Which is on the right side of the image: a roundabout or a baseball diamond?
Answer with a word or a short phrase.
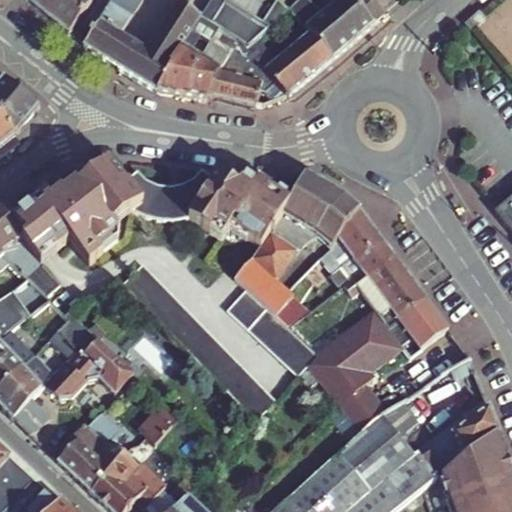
roundabout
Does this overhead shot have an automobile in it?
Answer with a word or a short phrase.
Yes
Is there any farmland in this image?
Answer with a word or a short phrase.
No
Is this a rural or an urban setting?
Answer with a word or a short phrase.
urban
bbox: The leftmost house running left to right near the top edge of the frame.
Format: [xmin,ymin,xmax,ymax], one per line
[20,0,100,38]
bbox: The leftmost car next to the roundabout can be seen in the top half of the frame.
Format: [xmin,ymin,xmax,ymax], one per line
[309,118,330,132]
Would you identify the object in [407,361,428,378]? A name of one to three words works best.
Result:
vehicle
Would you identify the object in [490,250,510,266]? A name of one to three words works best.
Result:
car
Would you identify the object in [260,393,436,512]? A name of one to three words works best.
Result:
building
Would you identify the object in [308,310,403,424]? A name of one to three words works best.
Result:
house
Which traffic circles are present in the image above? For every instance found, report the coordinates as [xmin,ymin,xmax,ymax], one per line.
[324,70,438,183]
